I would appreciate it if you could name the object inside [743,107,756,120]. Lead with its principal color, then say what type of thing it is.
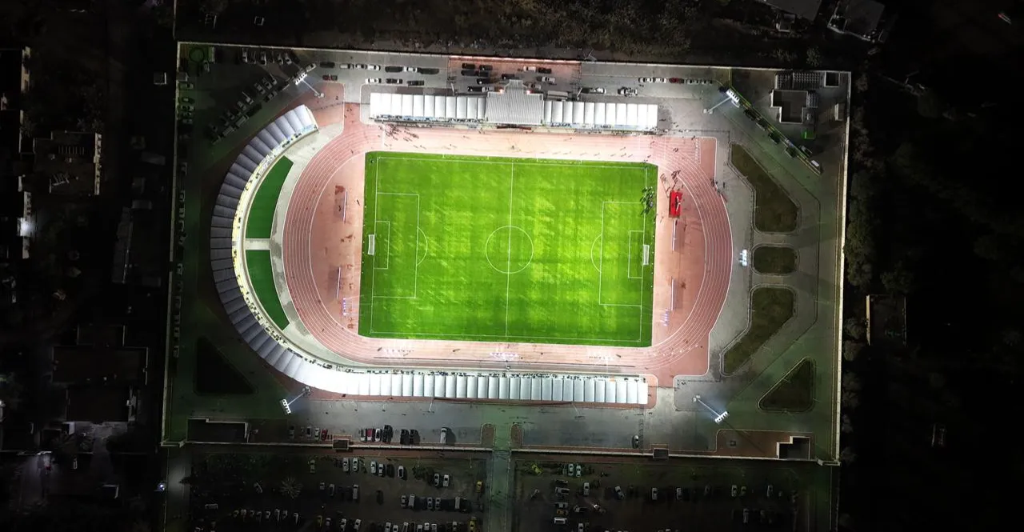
black vehicle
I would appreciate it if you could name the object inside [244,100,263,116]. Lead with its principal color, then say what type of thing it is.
black vehicle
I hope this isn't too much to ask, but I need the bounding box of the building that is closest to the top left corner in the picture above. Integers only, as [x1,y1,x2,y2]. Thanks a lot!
[0,49,40,110]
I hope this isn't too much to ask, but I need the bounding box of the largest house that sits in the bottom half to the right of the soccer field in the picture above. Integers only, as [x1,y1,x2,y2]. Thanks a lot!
[863,294,905,346]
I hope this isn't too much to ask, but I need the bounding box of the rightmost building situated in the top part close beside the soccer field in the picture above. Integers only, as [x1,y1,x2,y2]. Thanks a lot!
[485,80,543,132]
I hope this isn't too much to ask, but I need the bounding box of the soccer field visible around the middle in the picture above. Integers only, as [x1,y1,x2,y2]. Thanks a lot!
[358,151,658,347]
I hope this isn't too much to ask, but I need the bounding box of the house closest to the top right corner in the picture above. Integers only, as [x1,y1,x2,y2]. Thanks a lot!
[824,0,883,40]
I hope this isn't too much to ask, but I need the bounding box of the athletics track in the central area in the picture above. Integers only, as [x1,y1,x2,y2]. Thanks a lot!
[282,120,734,390]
